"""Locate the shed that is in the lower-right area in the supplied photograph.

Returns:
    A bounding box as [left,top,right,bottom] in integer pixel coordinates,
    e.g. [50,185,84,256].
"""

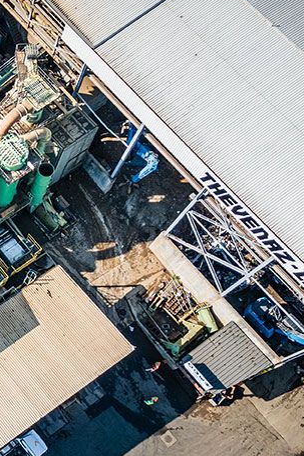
[176,322,274,393]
